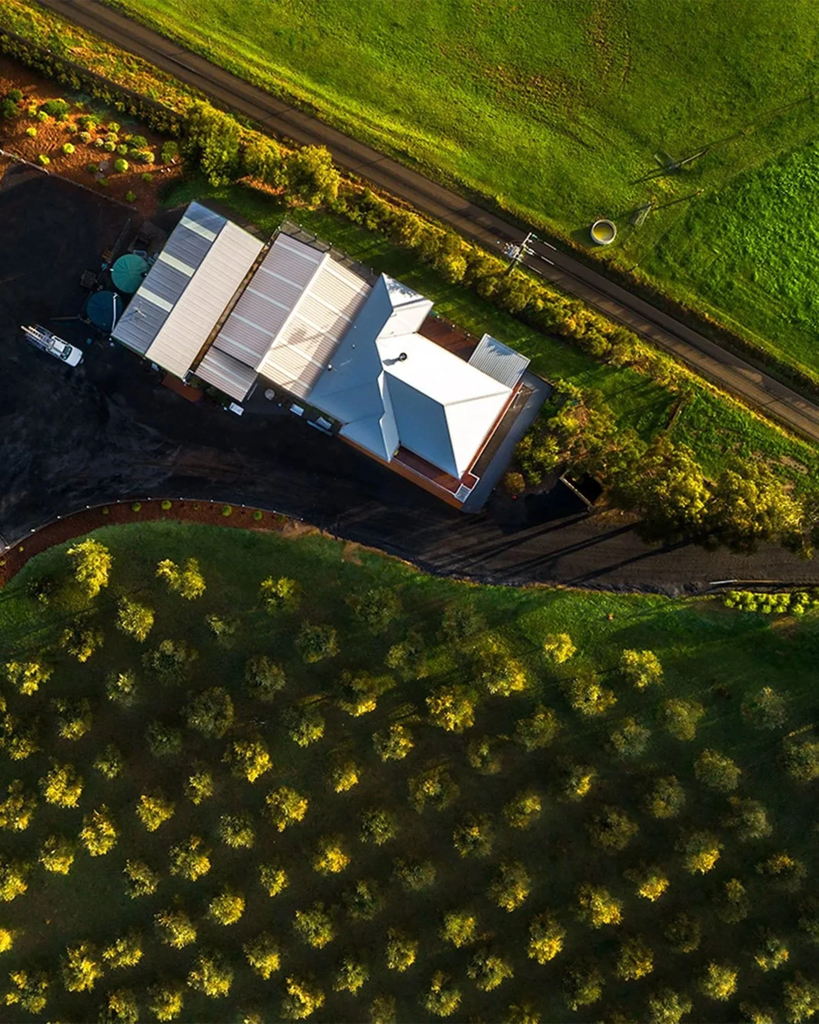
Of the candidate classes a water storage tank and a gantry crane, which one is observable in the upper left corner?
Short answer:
water storage tank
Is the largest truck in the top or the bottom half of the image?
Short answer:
top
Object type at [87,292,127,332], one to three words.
water tank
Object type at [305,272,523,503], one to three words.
house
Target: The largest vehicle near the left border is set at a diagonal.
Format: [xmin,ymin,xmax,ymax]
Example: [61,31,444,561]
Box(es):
[22,322,82,366]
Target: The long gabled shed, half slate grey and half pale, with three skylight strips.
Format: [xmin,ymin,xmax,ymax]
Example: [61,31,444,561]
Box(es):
[113,200,268,381]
